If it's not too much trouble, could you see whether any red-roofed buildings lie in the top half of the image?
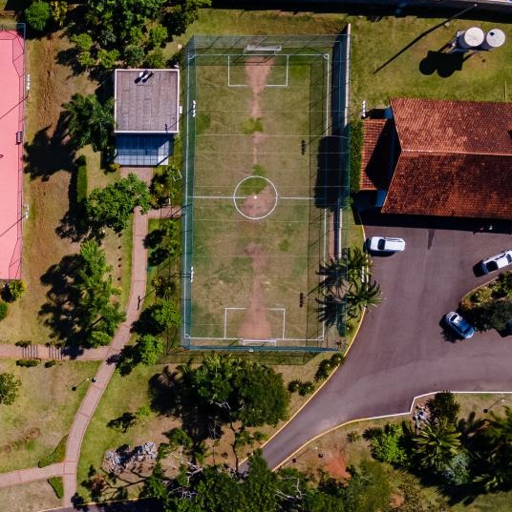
Yes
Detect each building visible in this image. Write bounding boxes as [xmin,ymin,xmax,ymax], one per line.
[356,98,512,221]
[110,69,179,165]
